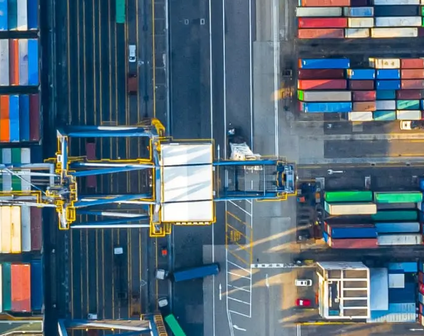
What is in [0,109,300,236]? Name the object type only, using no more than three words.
container crane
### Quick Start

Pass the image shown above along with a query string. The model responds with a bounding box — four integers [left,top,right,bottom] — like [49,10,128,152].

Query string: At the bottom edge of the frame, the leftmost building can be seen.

[317,261,370,320]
